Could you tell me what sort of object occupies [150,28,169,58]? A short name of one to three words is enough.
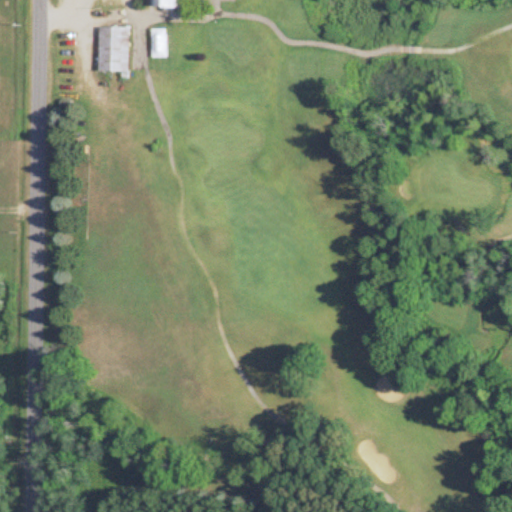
building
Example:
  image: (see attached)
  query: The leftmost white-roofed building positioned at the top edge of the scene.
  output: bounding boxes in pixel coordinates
[98,25,133,78]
